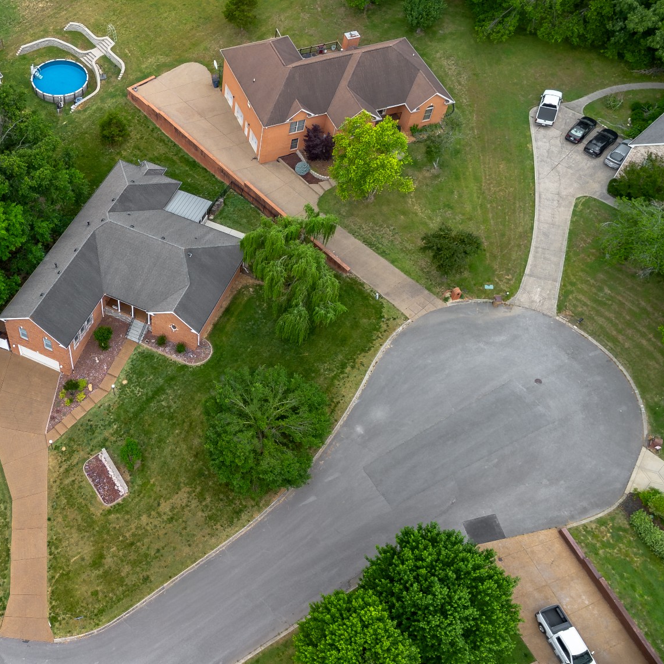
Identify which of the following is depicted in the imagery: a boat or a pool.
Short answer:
pool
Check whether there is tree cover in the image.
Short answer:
Yes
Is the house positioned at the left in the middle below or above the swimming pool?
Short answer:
below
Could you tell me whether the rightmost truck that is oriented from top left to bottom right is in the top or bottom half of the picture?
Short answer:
bottom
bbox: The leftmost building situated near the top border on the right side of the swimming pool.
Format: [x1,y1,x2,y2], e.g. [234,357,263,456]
[220,29,455,160]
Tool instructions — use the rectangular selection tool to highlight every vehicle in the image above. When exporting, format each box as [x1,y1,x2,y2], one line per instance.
[535,601,597,664]
[534,88,563,129]
[581,126,623,159]
[604,136,634,170]
[563,115,600,145]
